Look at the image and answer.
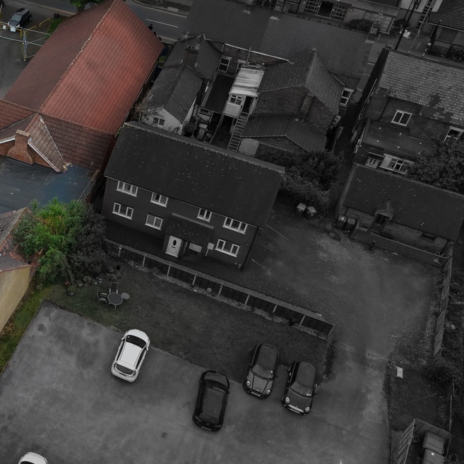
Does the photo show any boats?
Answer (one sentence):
No, I can't see a single boat in this photo.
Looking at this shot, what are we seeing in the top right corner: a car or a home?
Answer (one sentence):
Visible in the top right corner is a home.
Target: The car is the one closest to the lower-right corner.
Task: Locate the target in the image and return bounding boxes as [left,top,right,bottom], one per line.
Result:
[280,360,318,415]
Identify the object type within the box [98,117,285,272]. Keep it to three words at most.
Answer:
house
